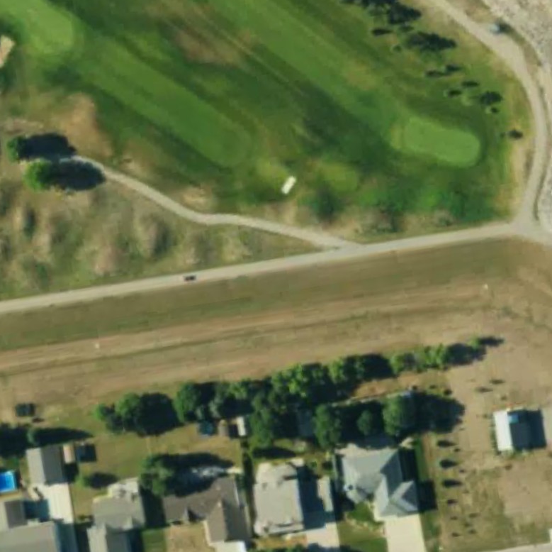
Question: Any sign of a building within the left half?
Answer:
Yes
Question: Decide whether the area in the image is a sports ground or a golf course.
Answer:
golf course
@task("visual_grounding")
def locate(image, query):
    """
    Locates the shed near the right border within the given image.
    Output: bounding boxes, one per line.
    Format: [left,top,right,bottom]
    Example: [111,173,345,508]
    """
[492,408,531,451]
